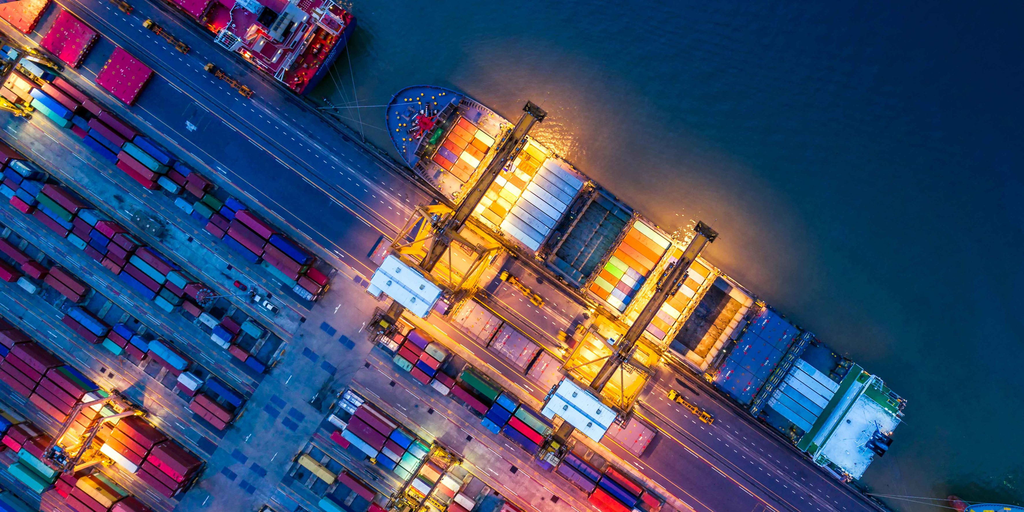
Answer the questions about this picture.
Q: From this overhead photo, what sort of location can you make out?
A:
port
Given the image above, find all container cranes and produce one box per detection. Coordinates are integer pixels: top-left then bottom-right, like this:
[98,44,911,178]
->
[360,100,552,351]
[0,36,68,123]
[43,390,149,479]
[389,438,460,512]
[530,222,725,472]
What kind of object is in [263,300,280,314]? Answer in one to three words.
vehicle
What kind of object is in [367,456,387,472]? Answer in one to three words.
vehicle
